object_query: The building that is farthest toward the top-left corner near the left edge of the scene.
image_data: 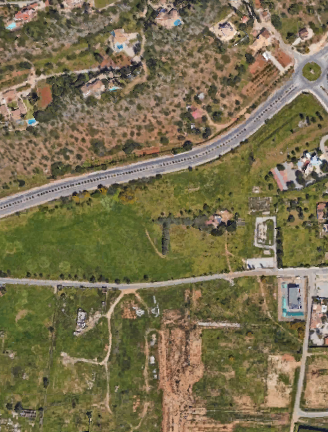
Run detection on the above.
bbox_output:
[8,4,41,25]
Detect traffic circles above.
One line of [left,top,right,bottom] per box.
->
[295,55,327,87]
